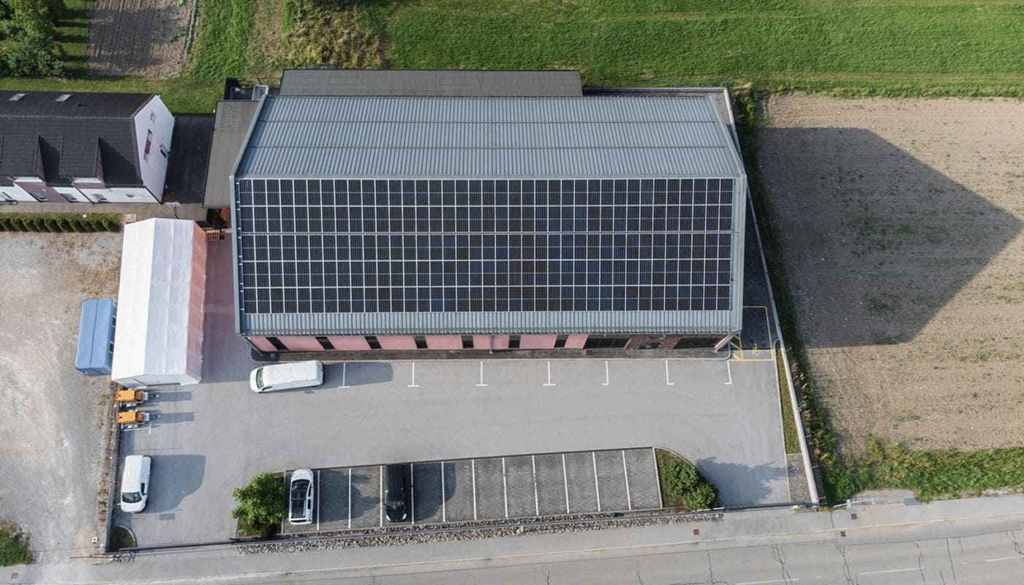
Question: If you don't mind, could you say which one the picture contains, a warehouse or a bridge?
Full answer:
Visible in the photo is a warehouse.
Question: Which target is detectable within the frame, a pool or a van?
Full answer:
This aerial view contains a van.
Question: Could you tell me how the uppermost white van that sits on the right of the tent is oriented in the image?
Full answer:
The uppermost white van that sits on the right of the tent is laid out from left to right.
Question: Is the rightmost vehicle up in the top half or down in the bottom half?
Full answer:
The rightmost vehicle sits in the bottom half of the picture.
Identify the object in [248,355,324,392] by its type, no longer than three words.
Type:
van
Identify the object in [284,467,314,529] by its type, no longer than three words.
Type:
car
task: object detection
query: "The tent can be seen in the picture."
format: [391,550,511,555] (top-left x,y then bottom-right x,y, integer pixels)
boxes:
[112,218,206,388]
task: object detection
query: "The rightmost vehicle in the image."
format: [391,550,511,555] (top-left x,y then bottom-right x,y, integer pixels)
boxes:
[379,462,409,524]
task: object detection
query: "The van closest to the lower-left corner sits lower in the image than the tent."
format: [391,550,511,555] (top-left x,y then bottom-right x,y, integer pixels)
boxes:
[116,454,152,511]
